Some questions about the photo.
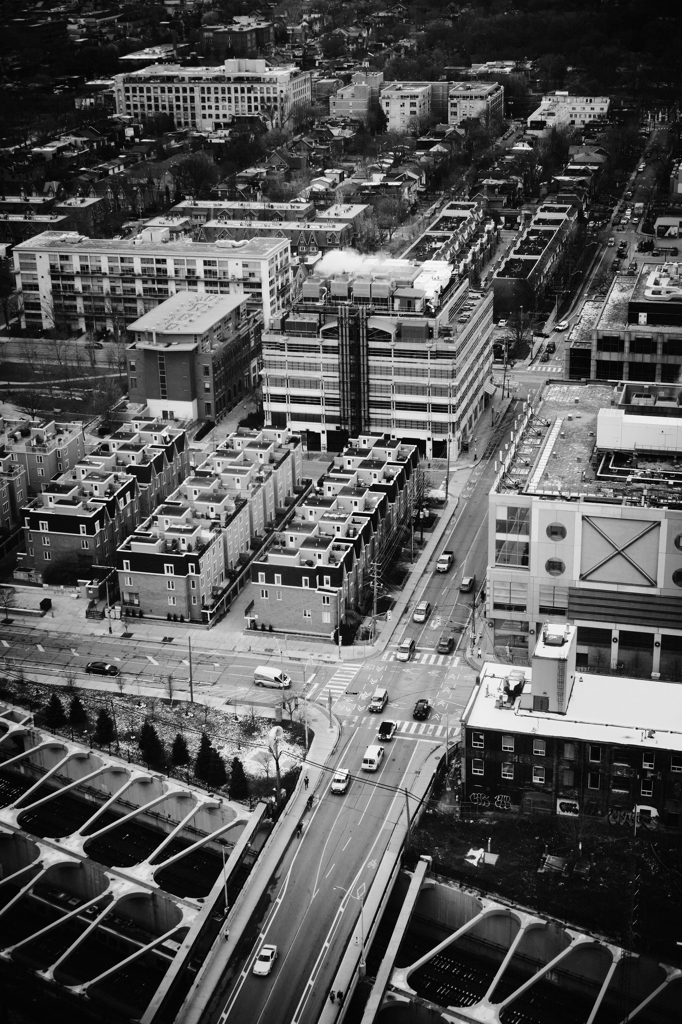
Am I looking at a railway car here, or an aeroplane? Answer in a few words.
railway car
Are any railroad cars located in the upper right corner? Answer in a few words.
No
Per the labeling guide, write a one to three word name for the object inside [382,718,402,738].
car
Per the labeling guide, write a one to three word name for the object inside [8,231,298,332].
building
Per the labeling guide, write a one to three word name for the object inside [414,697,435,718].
car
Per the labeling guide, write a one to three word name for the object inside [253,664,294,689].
vehicle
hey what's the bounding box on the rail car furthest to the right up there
[129,937,195,994]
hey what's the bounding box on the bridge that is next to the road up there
[156,796,411,1024]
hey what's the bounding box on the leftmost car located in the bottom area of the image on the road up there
[86,661,121,676]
